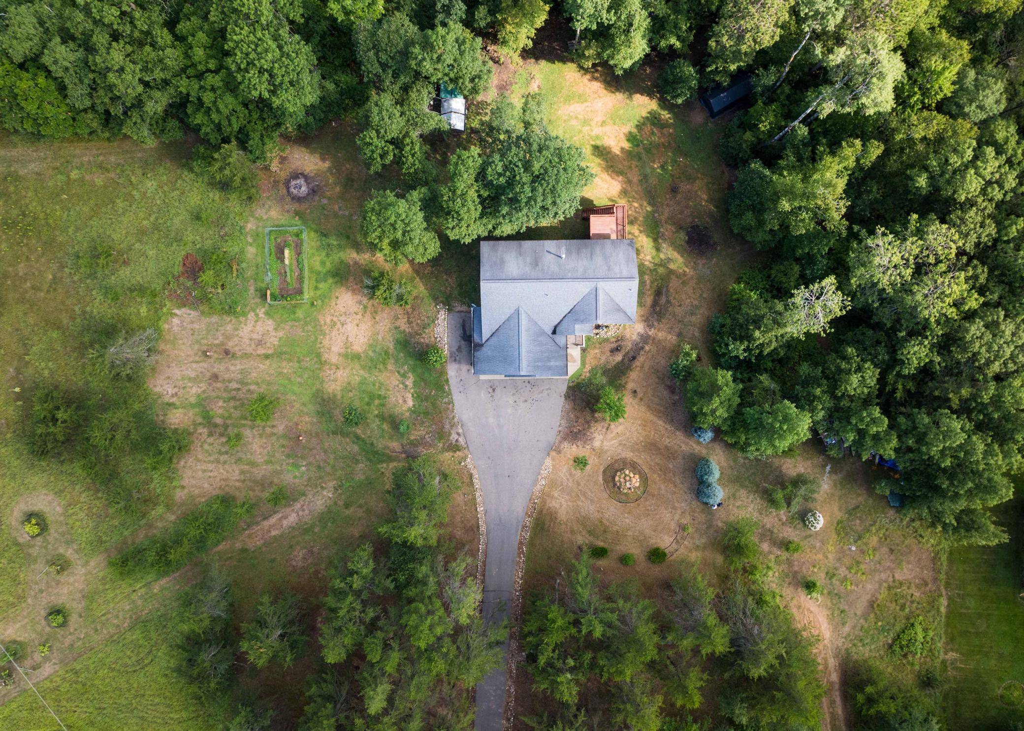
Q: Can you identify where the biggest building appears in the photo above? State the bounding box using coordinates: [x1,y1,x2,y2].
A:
[471,239,639,378]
